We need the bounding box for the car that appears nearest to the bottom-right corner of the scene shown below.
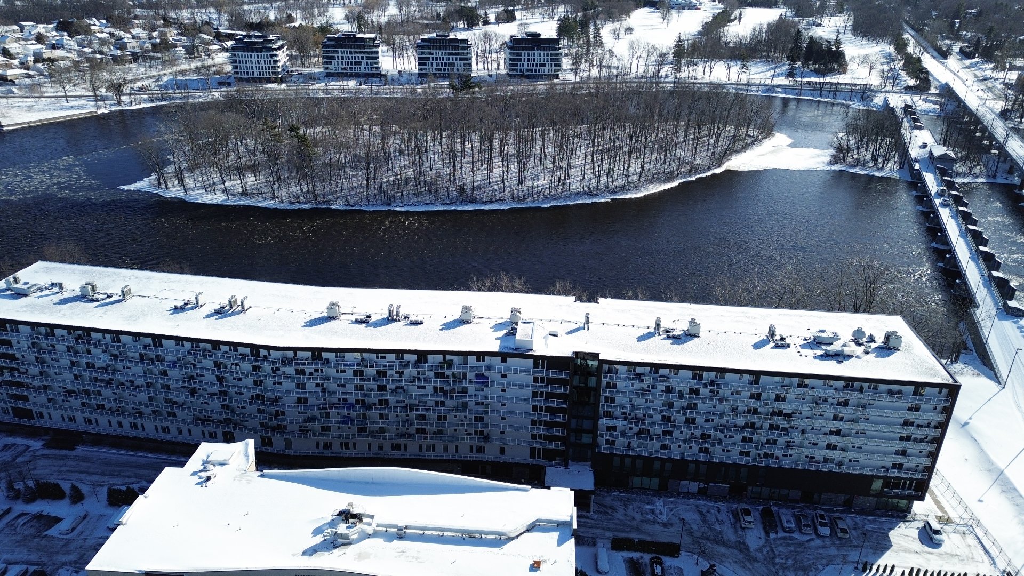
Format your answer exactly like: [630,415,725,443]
[918,519,951,546]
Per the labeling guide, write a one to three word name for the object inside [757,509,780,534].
car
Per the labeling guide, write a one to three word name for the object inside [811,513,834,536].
car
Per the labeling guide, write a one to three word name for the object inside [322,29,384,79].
building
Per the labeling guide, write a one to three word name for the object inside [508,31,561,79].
building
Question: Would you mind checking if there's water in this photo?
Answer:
Yes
